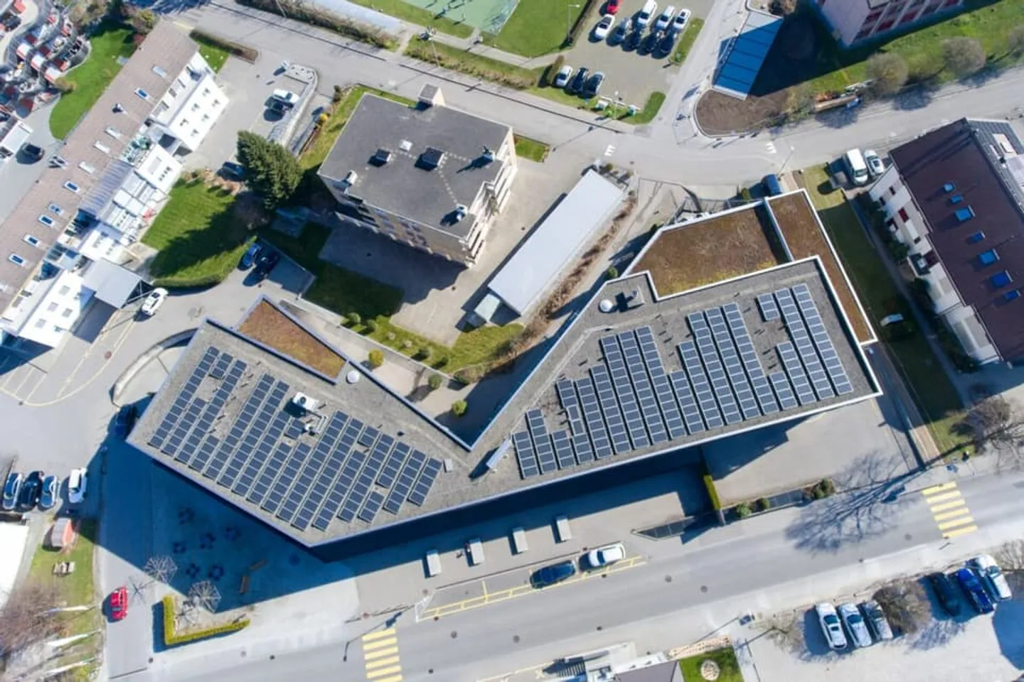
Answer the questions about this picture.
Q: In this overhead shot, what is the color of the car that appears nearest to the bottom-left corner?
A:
red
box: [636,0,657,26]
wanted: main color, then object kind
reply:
white vehicle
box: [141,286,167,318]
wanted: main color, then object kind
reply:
white car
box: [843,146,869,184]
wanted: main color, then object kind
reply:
white vehicle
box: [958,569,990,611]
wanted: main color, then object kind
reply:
blue car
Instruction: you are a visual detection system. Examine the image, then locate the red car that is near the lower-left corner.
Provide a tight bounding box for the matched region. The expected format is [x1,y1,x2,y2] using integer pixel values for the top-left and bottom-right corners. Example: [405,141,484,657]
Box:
[110,584,131,621]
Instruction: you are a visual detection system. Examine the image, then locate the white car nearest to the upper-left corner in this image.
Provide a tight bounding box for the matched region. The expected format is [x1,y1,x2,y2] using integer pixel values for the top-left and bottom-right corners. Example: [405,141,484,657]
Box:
[272,86,302,107]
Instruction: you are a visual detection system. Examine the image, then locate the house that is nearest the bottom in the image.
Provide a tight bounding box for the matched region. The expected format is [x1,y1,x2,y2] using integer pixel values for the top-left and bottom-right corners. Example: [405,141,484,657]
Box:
[585,642,679,682]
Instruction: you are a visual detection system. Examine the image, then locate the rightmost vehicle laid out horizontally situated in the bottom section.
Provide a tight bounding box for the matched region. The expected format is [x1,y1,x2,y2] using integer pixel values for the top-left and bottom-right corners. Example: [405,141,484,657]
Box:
[585,545,624,568]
